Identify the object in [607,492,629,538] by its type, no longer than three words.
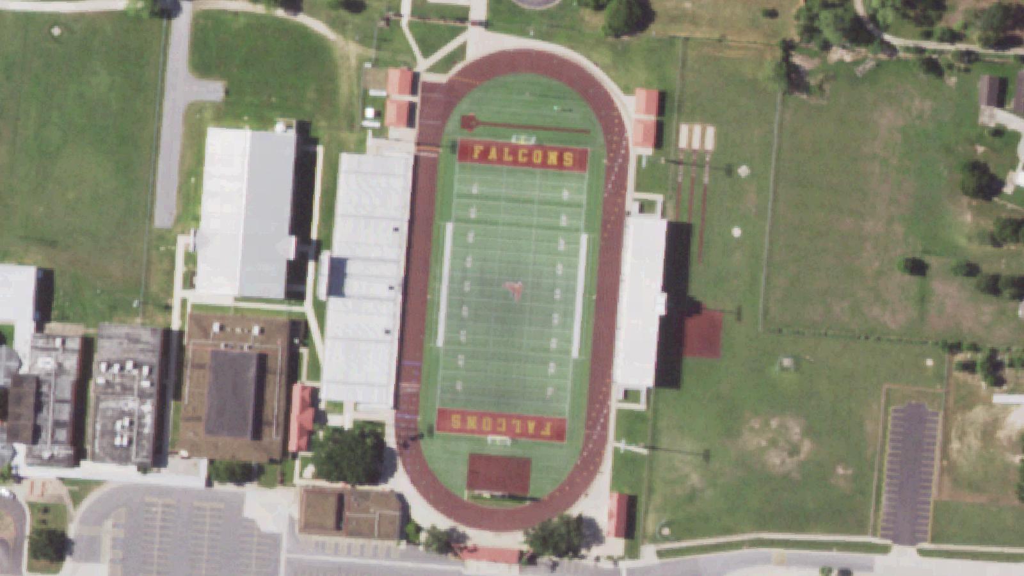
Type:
shed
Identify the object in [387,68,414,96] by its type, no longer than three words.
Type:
shed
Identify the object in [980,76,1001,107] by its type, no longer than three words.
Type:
house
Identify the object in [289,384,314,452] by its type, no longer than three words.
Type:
building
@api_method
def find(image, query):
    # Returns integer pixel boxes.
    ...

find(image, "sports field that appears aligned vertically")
[420,75,605,506]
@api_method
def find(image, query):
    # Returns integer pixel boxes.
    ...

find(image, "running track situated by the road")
[397,52,628,530]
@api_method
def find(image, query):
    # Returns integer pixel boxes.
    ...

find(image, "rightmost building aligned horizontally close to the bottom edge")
[456,543,520,564]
